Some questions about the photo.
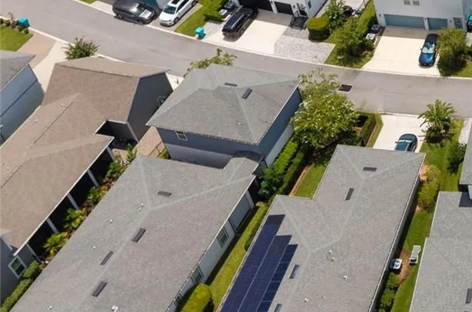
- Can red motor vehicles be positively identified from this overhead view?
No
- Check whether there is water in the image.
No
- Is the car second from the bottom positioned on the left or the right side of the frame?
right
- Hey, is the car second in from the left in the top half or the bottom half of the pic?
top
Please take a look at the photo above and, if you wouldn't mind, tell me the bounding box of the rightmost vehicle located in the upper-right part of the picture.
[418,33,440,66]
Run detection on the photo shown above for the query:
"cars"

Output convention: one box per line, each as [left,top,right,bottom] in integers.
[158,0,198,22]
[111,0,156,21]
[219,4,260,38]
[393,128,419,152]
[418,33,440,66]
